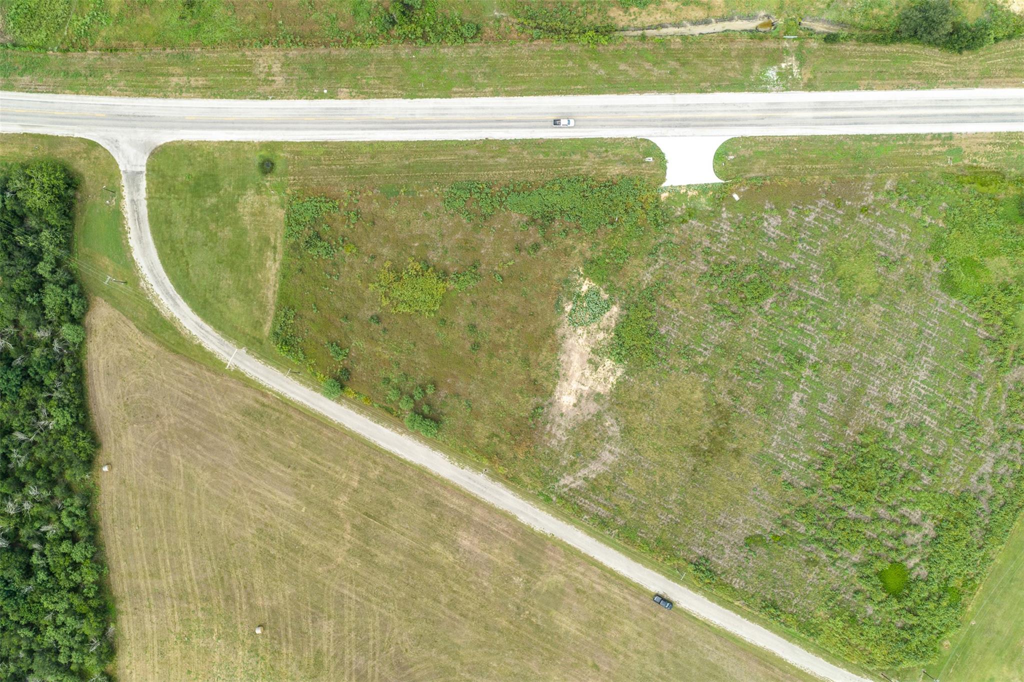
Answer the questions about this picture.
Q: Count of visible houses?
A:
0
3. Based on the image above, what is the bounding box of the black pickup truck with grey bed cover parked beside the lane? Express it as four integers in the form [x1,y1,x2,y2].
[651,593,673,609]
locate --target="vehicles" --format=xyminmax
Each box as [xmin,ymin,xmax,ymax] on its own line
[651,593,673,609]
[552,118,575,127]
